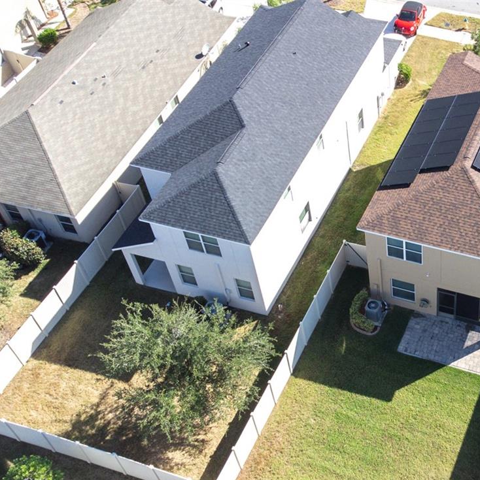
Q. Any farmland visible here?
No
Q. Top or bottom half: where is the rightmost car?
top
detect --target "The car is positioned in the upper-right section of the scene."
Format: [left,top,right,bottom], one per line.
[395,0,431,34]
